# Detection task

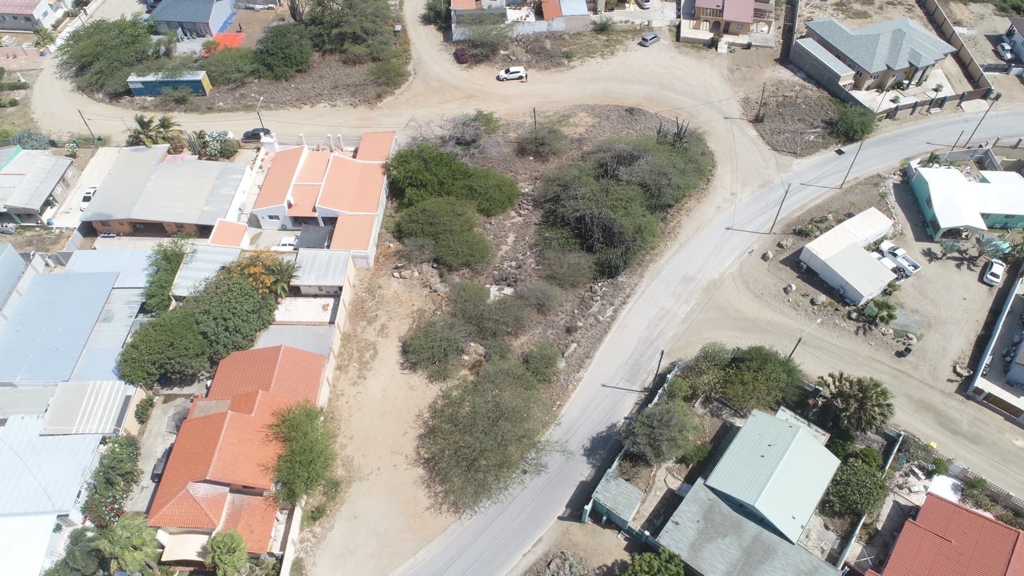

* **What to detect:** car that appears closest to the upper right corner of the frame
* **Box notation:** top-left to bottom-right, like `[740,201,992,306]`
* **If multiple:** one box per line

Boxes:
[996,43,1015,61]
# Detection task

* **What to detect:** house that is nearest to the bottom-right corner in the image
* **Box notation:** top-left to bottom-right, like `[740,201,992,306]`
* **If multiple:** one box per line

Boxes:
[880,492,1024,576]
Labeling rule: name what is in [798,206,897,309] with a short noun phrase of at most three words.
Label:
building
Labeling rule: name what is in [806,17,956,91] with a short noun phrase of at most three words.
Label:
house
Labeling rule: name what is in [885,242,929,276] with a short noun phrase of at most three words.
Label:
truck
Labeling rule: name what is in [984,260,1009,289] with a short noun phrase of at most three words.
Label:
car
